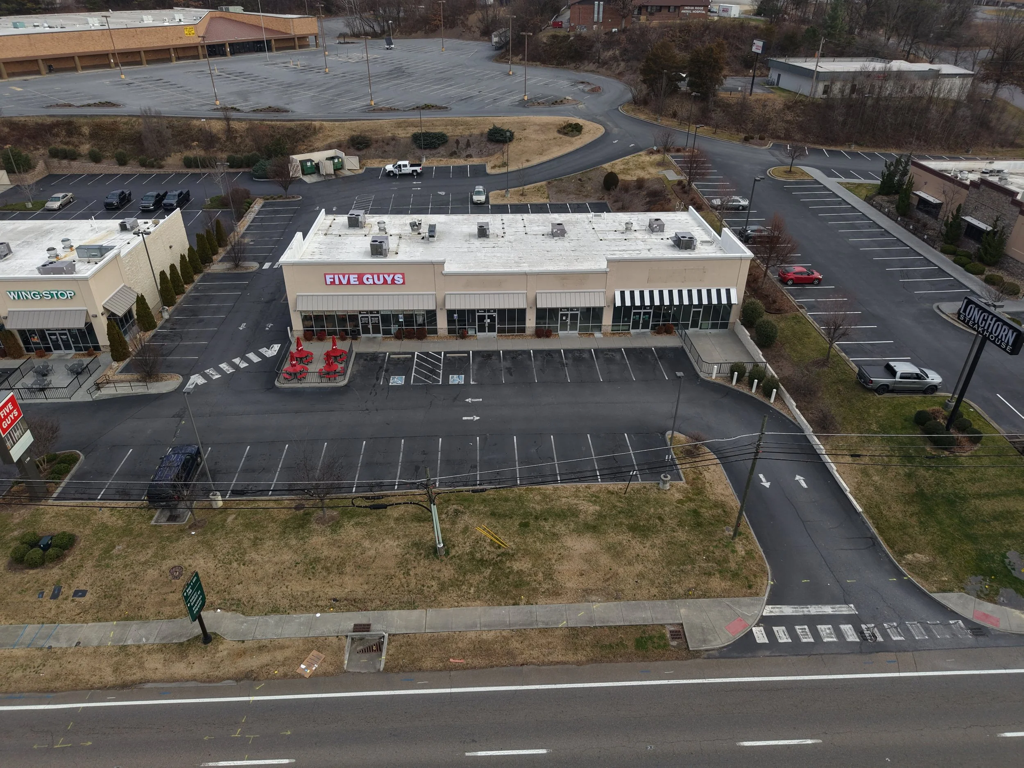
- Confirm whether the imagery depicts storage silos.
No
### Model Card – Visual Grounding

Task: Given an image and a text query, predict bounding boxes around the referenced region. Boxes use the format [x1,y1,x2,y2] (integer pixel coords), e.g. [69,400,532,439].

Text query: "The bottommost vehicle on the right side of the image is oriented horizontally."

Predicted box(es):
[850,358,946,394]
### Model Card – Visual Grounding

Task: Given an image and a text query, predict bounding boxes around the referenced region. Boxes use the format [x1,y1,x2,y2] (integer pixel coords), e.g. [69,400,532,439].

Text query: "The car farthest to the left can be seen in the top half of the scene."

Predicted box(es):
[43,193,74,208]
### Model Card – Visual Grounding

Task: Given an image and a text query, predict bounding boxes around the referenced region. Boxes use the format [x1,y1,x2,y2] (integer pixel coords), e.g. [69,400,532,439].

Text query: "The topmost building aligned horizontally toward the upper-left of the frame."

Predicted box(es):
[0,8,319,79]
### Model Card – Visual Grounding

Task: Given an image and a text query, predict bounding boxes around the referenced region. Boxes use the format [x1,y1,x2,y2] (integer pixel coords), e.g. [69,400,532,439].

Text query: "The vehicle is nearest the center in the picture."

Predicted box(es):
[471,185,486,202]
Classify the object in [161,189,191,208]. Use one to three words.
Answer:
vehicle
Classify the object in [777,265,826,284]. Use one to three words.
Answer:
car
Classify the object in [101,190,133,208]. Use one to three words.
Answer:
vehicle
